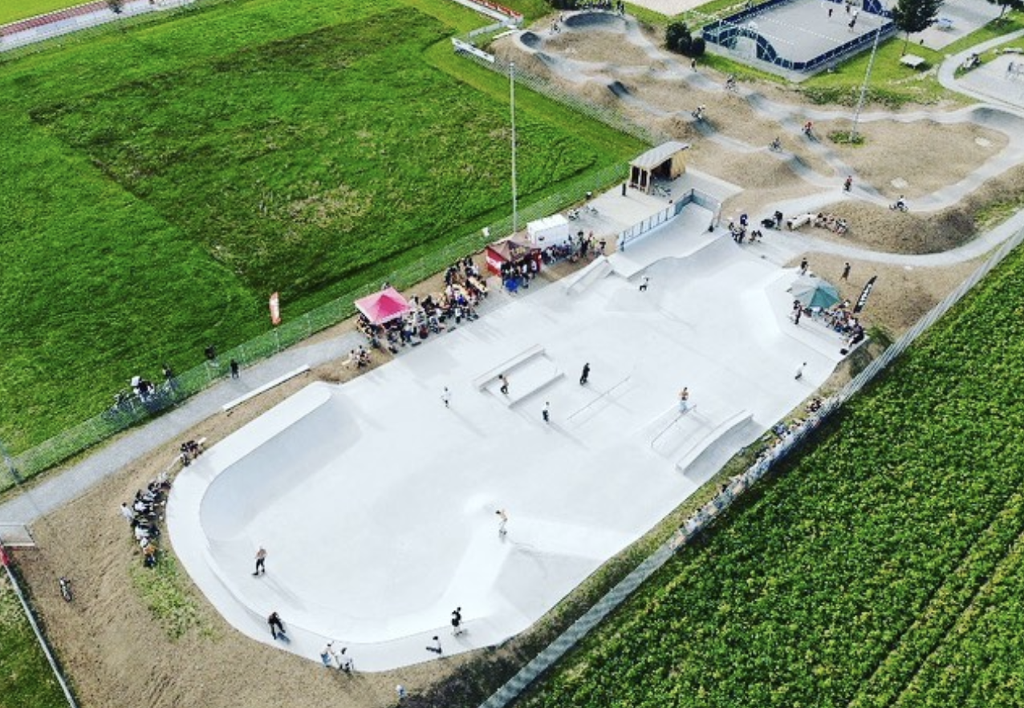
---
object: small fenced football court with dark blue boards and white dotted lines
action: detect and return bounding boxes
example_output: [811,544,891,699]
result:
[704,0,895,70]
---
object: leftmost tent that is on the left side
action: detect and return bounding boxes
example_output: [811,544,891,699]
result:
[347,276,415,322]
